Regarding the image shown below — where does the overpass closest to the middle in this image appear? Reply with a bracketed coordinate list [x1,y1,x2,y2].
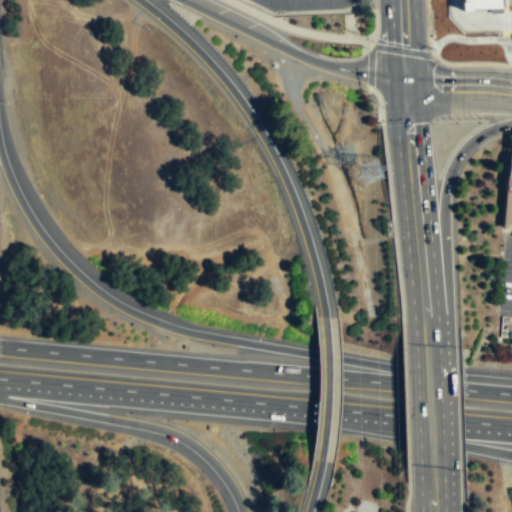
[314,316,343,464]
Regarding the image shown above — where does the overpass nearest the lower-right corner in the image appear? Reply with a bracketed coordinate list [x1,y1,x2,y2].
[402,344,462,500]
